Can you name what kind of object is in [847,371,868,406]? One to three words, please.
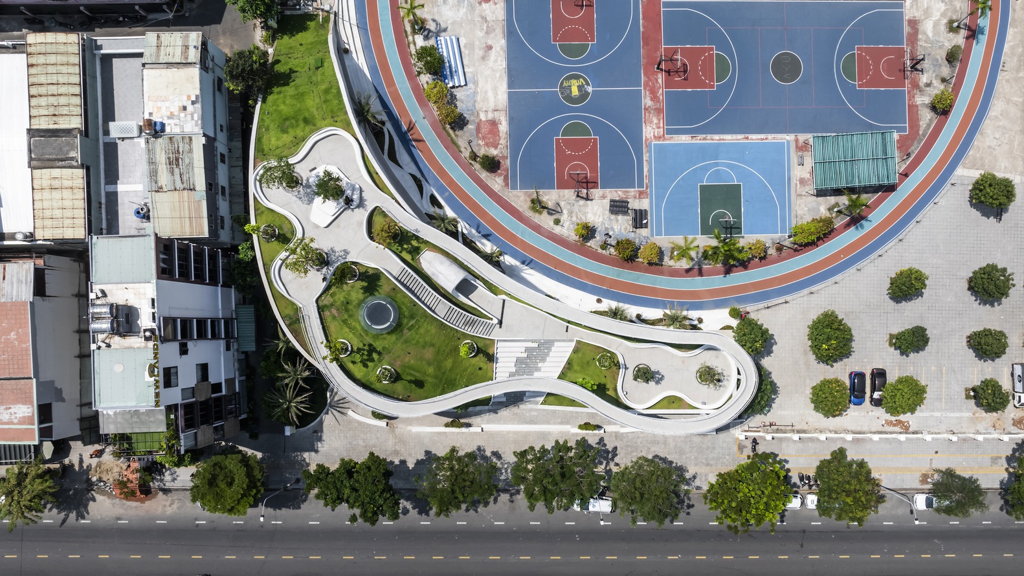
car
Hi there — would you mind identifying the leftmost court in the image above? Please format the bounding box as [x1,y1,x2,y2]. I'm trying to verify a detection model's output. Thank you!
[505,0,645,190]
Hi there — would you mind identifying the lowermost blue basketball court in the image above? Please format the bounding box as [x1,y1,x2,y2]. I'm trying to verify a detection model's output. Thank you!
[649,140,792,237]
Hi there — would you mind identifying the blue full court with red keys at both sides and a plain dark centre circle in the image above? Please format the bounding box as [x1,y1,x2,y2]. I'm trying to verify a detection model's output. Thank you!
[661,0,908,136]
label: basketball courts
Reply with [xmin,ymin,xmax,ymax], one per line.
[649,140,792,237]
[505,0,645,190]
[661,0,908,136]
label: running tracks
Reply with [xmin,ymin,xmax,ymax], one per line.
[355,0,1011,311]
